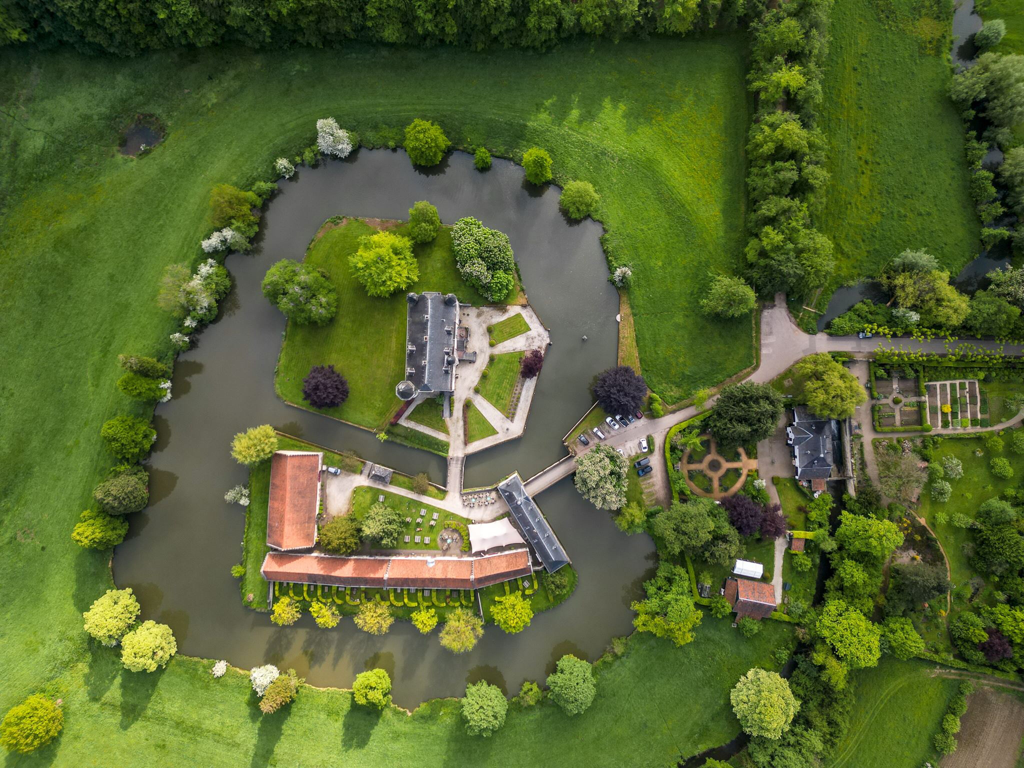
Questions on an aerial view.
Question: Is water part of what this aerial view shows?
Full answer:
Yes, there's water in this view.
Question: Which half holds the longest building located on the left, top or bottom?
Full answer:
Seen from above, the longest building located on the left lies in the bottom half of the view.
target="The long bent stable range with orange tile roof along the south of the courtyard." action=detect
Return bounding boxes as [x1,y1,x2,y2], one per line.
[263,548,534,590]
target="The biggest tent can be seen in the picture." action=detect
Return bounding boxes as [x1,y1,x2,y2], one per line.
[468,516,526,554]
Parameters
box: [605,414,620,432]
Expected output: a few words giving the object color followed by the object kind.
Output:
white car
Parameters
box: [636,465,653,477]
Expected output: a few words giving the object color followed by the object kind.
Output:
blue vehicle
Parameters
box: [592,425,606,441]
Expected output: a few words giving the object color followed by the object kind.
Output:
white car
